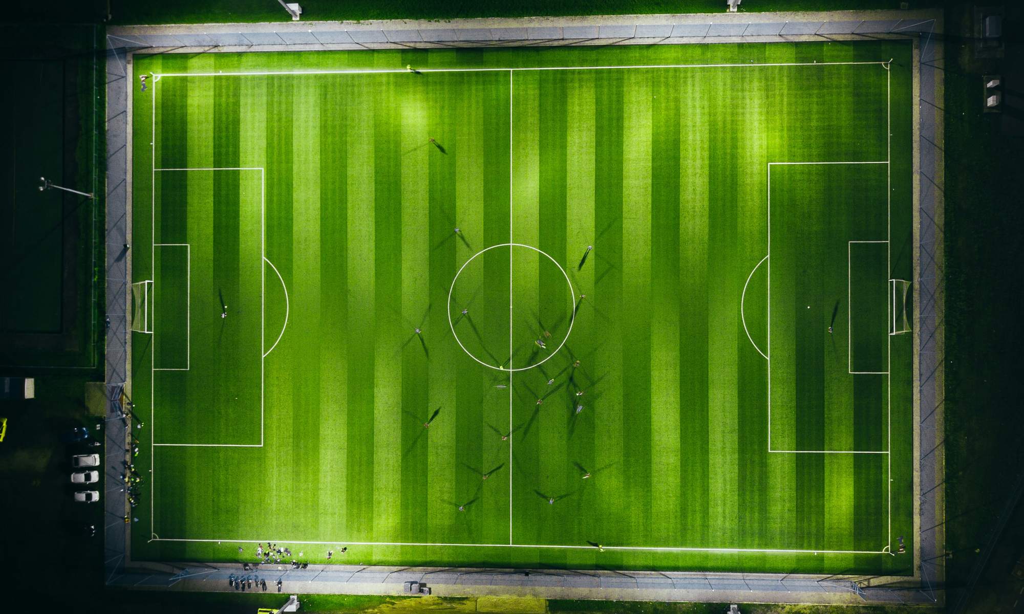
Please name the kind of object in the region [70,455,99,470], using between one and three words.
car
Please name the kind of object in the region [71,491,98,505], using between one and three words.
car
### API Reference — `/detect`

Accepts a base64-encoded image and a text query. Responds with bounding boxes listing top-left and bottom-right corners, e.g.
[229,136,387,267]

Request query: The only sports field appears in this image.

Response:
[131,39,913,577]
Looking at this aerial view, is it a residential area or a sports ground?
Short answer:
sports ground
